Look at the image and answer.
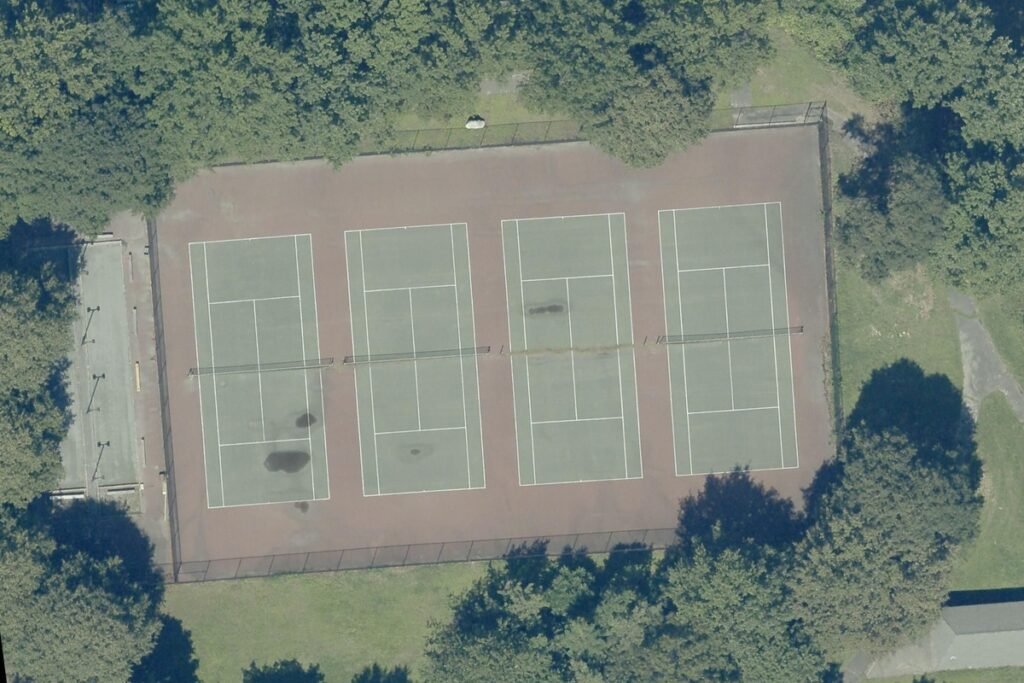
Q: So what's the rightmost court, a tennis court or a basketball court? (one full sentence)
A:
In the photo, the rightmost court shows up as a tennis court.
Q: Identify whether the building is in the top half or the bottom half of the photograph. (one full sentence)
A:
The bottom half of the photo is where the building is.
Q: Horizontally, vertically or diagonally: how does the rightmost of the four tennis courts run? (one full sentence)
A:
I'd say the rightmost of the four tennis courts is aligned vertically in the picture.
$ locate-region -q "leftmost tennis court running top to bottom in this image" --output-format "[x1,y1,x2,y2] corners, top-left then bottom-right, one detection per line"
[189,235,329,508]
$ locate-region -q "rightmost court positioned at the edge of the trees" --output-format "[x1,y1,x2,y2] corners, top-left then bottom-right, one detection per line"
[658,202,798,475]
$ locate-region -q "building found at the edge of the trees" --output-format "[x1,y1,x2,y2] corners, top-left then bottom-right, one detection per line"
[934,602,1024,671]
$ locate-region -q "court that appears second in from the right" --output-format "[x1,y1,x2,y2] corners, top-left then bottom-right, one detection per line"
[502,212,642,485]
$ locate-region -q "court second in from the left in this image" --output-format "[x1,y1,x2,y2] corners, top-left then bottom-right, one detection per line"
[345,223,486,496]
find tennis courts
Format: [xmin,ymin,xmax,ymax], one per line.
[502,212,642,485]
[658,202,798,475]
[189,235,329,508]
[345,223,486,496]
